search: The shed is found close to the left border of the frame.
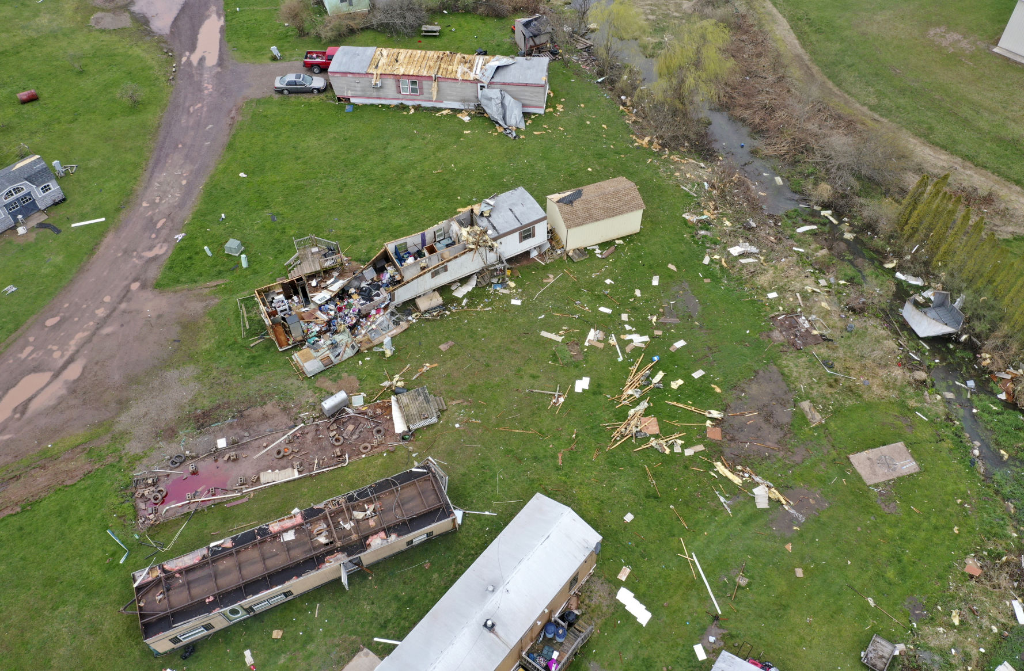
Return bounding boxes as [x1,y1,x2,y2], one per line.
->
[0,154,66,232]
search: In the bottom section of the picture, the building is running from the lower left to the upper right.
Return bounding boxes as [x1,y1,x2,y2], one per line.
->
[365,493,604,671]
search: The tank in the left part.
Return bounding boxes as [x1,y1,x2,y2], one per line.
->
[320,390,350,418]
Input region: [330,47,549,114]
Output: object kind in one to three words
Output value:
house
